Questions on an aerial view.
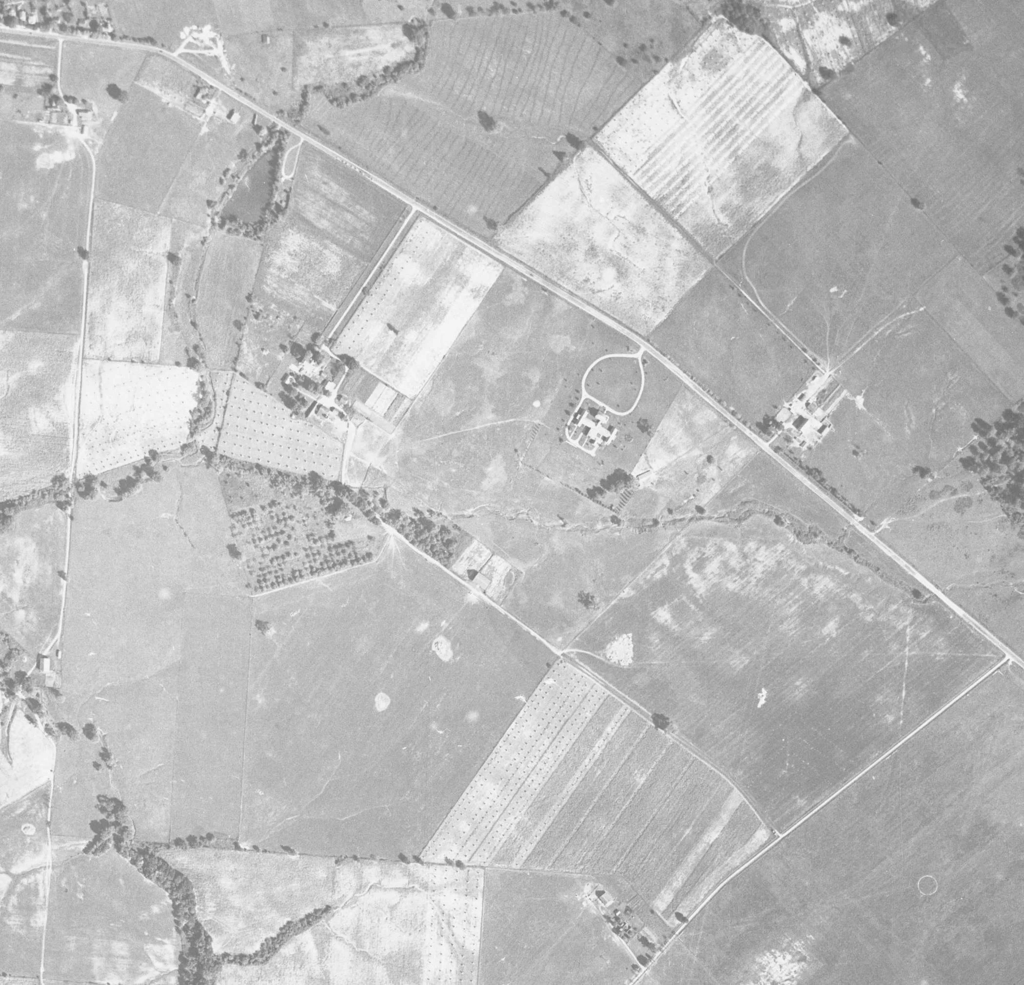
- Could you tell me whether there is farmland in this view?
Yes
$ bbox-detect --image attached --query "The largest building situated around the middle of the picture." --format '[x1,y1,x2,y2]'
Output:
[577,410,618,445]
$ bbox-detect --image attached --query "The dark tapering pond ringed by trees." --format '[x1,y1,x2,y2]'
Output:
[221,149,275,224]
